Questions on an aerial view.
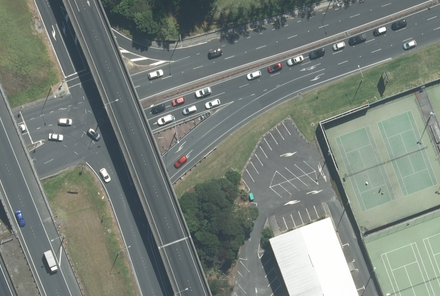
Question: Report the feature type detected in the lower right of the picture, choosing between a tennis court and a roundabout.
tennis court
